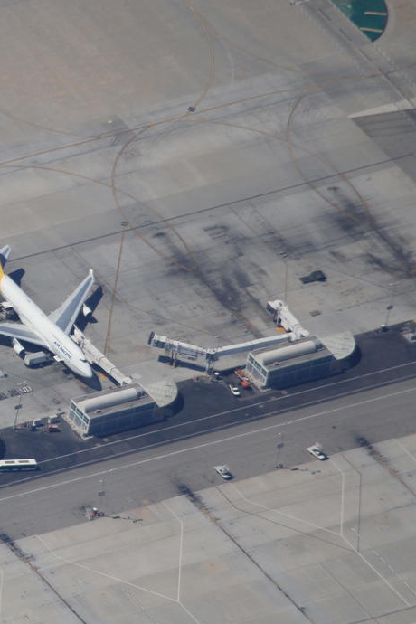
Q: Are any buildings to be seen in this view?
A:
Yes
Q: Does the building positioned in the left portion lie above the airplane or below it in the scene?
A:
below it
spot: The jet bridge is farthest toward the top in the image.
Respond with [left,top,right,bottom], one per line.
[261,299,311,342]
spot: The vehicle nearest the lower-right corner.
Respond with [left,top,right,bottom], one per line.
[308,441,324,458]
